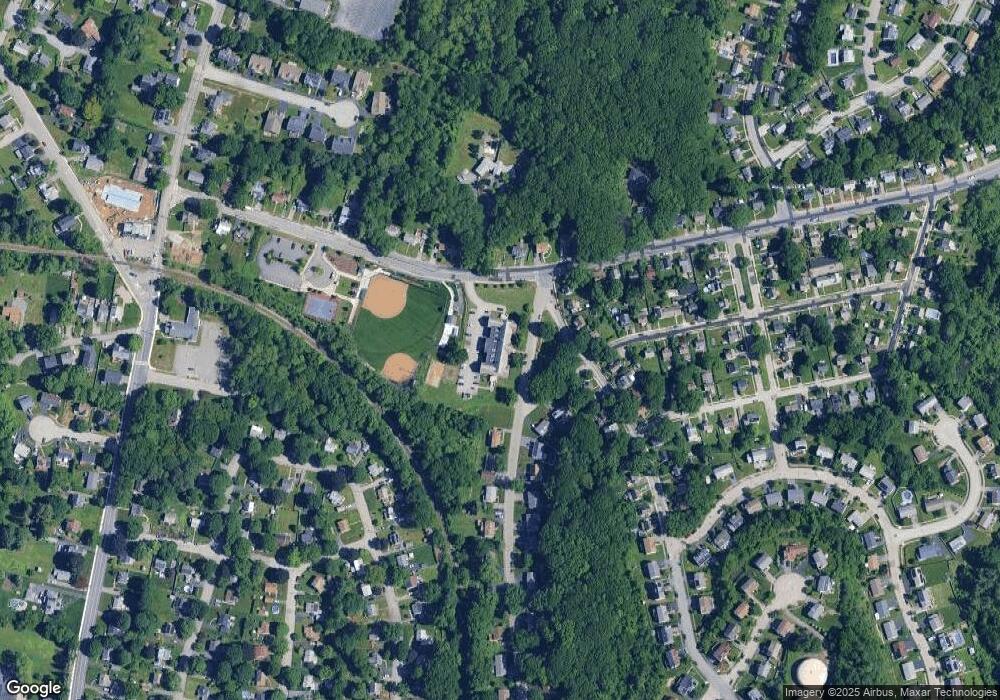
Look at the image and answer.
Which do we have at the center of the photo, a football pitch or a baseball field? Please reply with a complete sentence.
Visible at the center of the photo is a baseball field.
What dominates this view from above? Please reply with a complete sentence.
What you mostly see from above here is trees.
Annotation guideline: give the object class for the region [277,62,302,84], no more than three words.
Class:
house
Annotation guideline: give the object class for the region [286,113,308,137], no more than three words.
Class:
house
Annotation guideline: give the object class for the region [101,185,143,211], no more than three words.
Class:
building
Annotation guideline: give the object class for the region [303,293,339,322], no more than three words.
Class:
basketball court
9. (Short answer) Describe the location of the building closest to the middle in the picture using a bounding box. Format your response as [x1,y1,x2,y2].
[479,315,508,376]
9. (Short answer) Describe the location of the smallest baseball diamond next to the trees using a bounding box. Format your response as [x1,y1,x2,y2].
[383,353,417,383]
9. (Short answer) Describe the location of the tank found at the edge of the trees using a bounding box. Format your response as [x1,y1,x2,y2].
[799,658,827,687]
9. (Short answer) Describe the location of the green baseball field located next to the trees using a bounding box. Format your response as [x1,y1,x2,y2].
[354,274,448,375]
